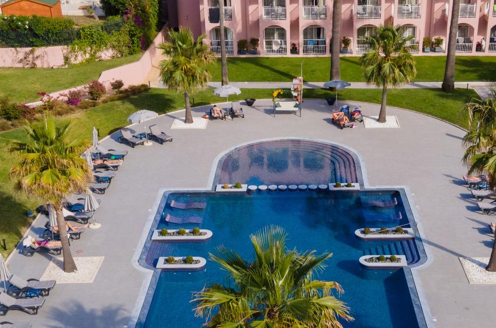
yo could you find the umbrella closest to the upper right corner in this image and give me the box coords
[321,80,352,94]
